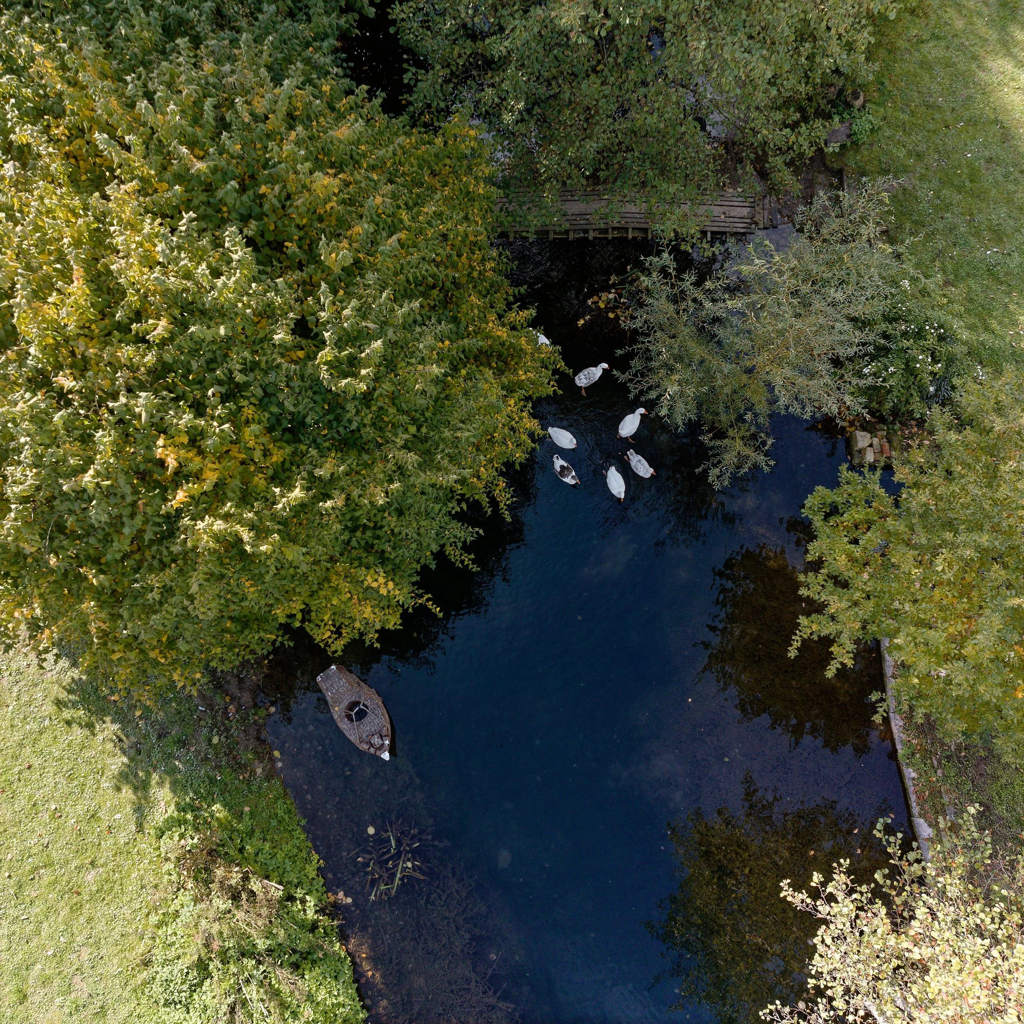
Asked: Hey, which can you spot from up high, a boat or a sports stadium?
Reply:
boat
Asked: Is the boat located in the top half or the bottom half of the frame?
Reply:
bottom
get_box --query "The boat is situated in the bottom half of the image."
[316,665,391,761]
